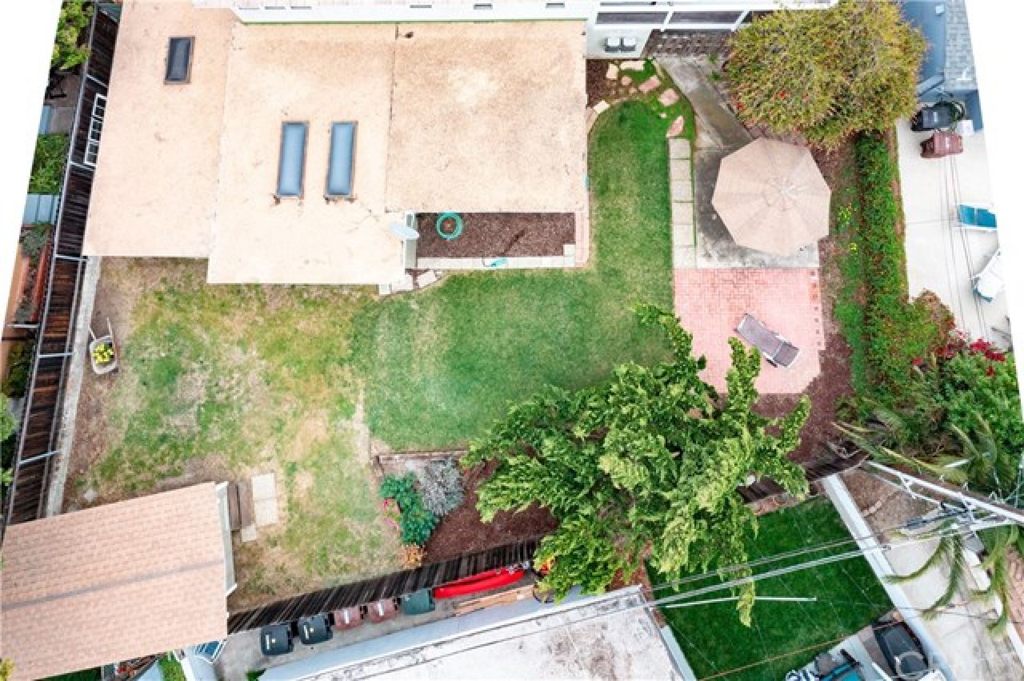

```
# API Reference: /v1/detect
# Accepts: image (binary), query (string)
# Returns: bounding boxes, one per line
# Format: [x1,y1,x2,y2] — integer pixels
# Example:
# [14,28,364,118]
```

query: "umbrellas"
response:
[712,139,830,257]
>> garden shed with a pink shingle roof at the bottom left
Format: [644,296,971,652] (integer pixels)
[0,482,237,681]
